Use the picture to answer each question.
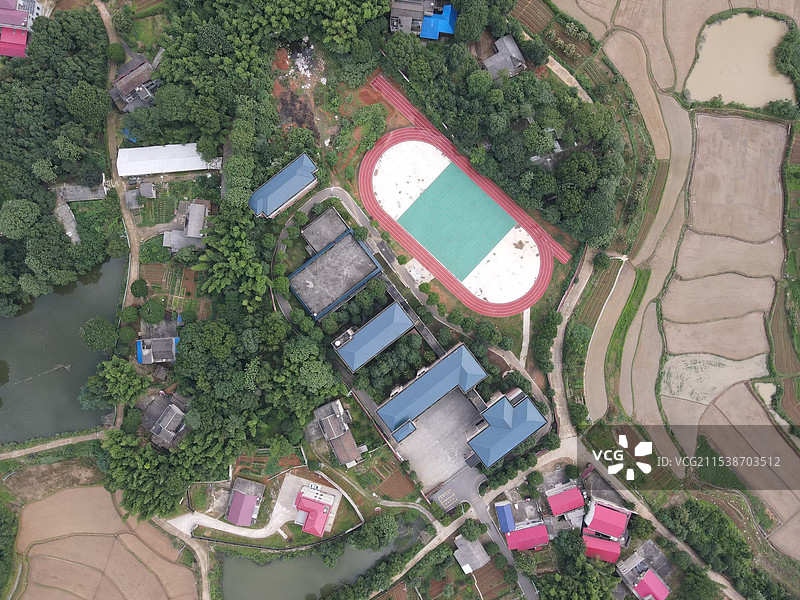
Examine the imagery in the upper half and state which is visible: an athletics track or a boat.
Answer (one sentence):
The feature located in the upper half is an athletics track.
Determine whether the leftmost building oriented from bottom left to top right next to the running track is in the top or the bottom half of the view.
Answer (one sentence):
The top half of the photo is where the leftmost building oriented from bottom left to top right next to the running track is.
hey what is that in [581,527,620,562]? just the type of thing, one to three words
house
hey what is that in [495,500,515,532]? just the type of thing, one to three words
shed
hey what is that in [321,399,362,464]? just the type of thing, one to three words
house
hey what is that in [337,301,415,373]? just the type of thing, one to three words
building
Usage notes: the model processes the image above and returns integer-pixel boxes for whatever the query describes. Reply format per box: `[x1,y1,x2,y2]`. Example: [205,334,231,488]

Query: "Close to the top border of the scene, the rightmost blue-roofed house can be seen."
[420,5,457,41]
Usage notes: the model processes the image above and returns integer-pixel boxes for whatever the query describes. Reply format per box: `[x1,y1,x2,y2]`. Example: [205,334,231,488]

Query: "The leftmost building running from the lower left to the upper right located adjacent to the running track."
[248,152,320,218]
